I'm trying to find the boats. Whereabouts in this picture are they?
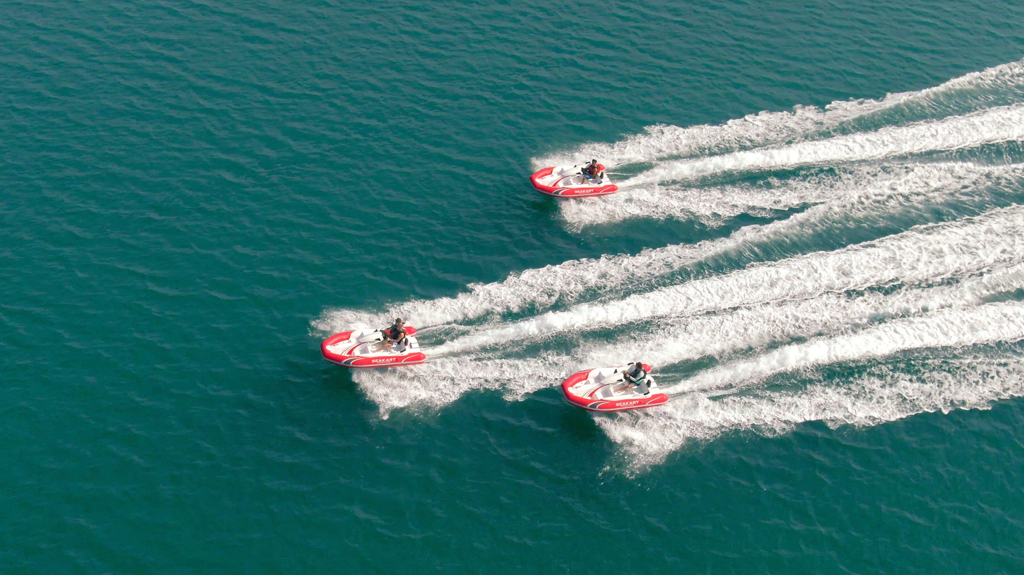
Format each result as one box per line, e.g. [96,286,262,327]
[560,362,669,410]
[530,162,618,197]
[321,326,427,369]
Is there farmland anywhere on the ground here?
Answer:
No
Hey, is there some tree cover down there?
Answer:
No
